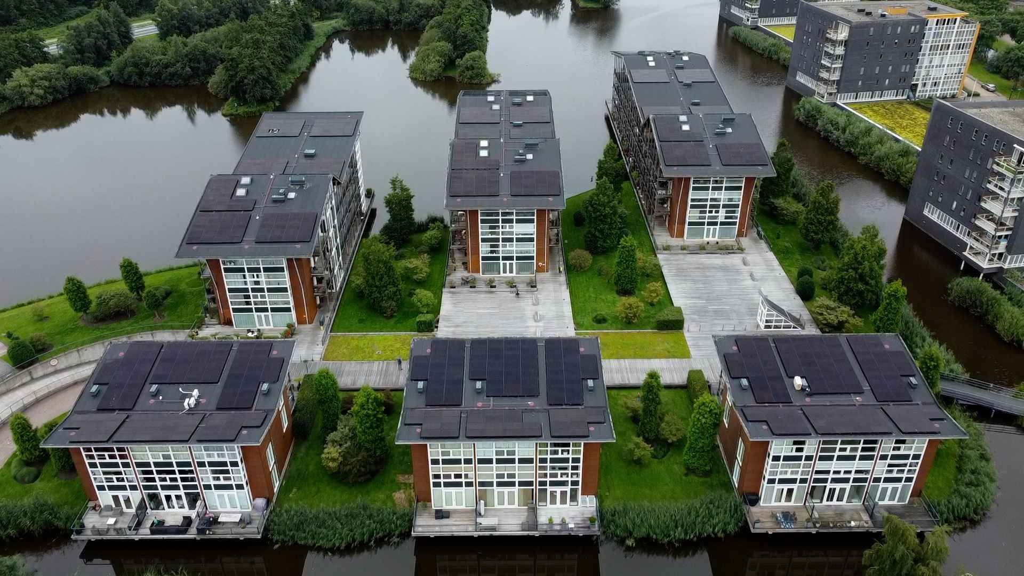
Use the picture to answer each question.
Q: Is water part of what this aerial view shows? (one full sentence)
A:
Yes, water can be seen from above here.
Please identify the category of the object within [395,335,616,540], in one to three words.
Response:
house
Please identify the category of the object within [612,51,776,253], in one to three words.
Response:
building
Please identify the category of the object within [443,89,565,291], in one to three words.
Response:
building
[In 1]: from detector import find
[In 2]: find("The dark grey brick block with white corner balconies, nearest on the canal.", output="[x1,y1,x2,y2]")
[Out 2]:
[904,90,1024,276]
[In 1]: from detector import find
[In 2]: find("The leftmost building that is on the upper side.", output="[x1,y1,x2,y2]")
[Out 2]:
[176,110,374,346]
